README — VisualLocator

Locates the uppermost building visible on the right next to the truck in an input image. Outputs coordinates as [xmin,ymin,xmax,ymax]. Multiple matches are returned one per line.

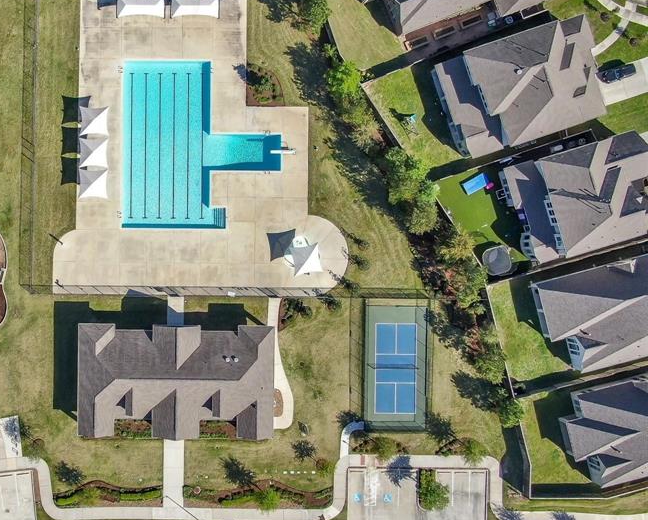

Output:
[429,15,607,159]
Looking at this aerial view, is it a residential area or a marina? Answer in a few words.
residential area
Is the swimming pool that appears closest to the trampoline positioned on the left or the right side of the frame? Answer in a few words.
right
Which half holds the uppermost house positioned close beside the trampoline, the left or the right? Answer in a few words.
right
